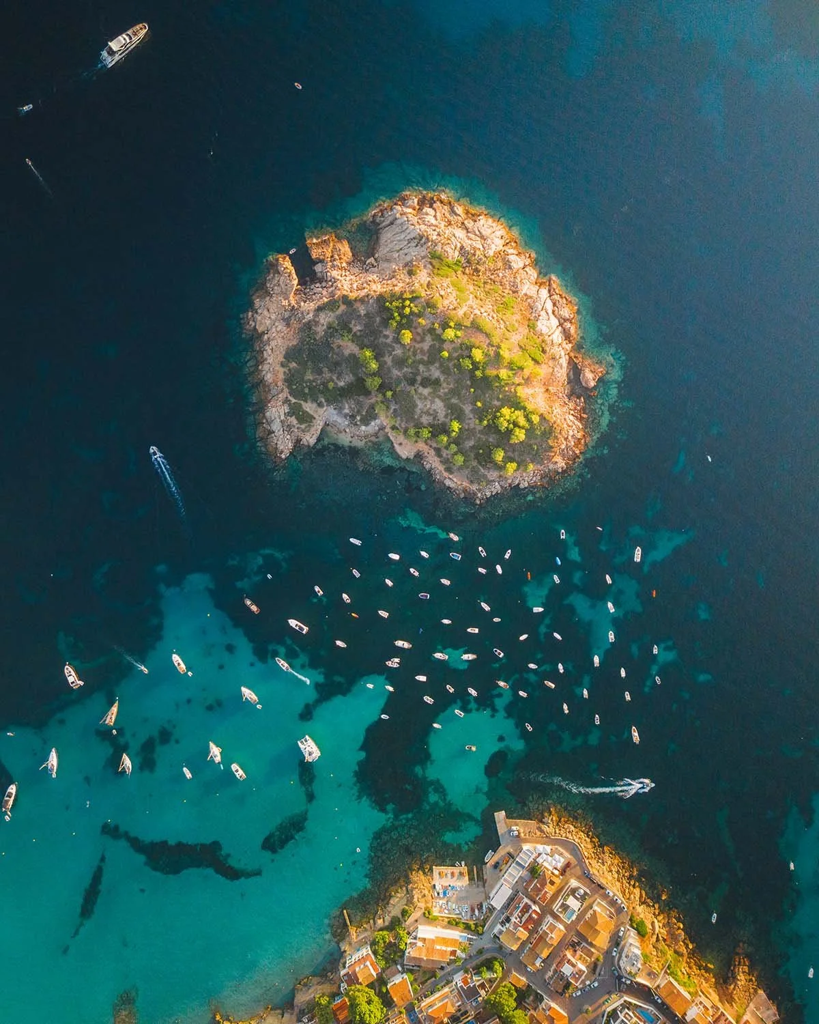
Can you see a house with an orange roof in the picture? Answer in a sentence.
Yes, the picture does show a house with an orange roof.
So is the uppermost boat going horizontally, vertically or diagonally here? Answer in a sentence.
The uppermost boat is oriented diagonally.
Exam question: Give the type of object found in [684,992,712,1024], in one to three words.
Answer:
house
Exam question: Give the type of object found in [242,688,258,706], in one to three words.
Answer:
boat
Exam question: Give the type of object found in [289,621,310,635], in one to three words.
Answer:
boat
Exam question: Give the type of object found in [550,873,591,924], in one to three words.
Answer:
building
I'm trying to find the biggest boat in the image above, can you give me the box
[98,21,145,69]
